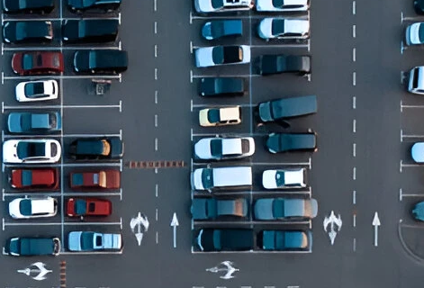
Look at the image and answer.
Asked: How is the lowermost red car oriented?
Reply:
horizontally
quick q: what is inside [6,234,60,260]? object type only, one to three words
car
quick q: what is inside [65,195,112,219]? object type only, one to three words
car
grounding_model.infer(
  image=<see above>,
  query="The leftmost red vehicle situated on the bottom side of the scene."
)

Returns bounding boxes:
[9,167,59,191]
